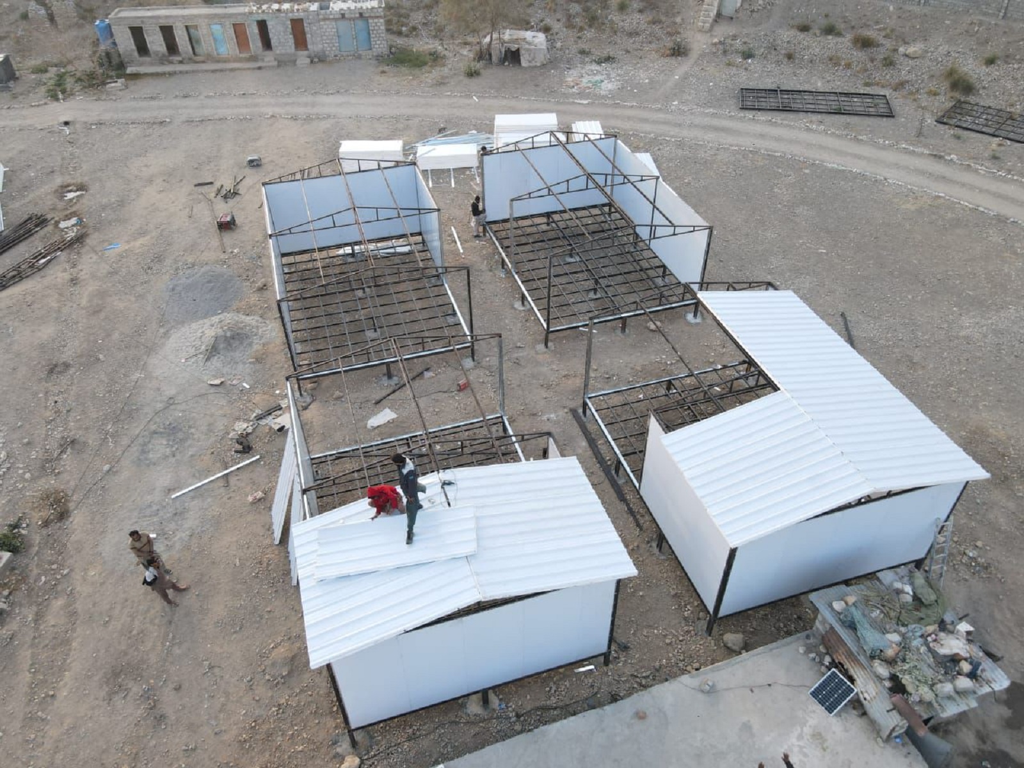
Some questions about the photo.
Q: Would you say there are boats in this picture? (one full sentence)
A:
No, there isn't any boat down there.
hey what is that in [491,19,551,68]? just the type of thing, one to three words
shed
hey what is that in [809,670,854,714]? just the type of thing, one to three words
solar panel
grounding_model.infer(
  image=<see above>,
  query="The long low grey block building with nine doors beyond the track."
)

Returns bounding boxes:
[106,0,389,75]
